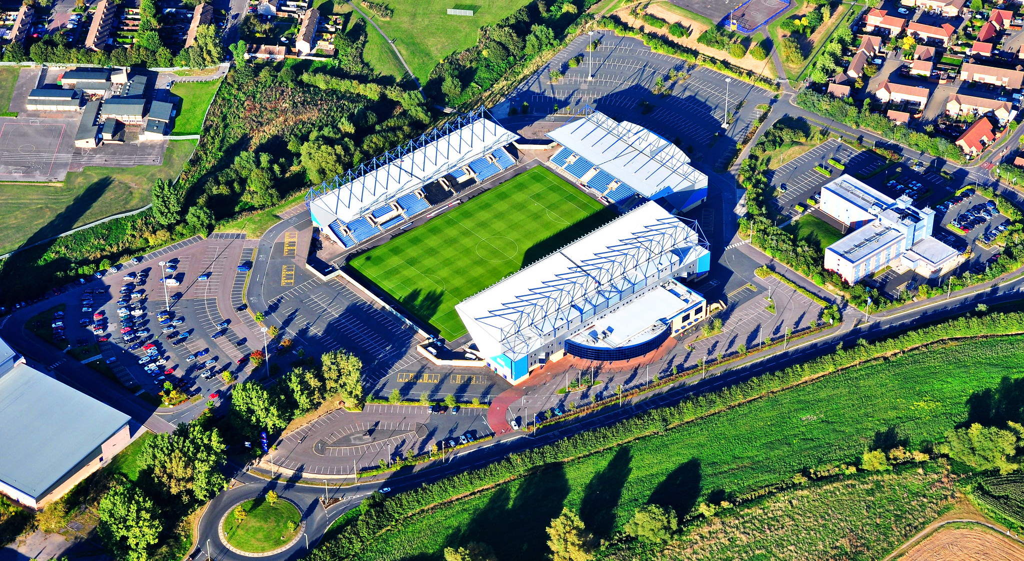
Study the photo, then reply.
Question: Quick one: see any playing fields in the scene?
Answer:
Yes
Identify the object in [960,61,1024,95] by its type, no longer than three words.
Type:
house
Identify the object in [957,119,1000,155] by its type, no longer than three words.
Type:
house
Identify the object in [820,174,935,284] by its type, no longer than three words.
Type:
building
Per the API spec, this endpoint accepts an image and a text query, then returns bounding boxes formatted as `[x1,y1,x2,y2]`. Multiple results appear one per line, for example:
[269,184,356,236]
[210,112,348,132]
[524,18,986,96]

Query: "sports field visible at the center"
[343,164,620,342]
